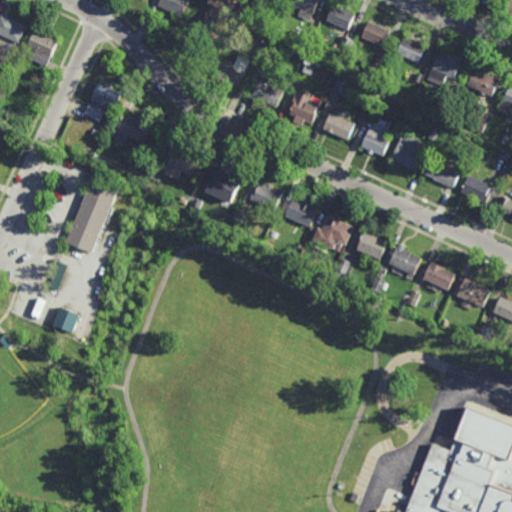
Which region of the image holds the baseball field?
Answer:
bottom left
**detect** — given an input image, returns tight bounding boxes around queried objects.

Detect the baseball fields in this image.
[0,340,48,436]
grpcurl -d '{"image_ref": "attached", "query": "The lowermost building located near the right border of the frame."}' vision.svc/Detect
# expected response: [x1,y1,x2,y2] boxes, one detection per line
[406,407,512,512]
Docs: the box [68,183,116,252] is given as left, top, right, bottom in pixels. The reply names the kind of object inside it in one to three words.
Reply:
building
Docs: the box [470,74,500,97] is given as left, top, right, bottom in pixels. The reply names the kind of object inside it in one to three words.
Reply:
house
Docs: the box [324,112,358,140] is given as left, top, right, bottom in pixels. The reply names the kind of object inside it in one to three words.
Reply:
house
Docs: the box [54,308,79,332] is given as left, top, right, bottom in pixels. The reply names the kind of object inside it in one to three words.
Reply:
building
